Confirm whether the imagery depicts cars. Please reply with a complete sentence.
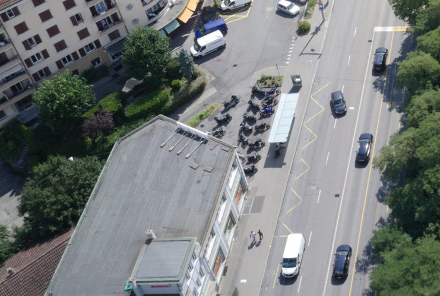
Yes, a car is visible in the scene.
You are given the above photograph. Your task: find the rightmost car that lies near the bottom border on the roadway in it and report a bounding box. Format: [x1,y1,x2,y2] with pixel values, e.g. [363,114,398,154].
[331,241,353,284]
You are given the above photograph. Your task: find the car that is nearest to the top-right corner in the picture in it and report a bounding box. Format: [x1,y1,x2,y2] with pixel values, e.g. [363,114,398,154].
[372,46,389,73]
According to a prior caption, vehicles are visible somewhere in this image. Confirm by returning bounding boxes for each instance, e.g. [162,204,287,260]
[251,81,264,93]
[190,11,232,38]
[239,119,254,131]
[247,97,262,110]
[247,138,266,147]
[246,162,262,174]
[219,0,252,11]
[261,97,278,105]
[355,132,375,166]
[212,126,226,134]
[258,105,276,115]
[243,108,257,121]
[276,227,305,279]
[273,0,303,17]
[254,122,273,131]
[223,96,239,108]
[372,46,389,73]
[244,150,264,161]
[214,111,233,122]
[186,26,229,55]
[331,241,353,284]
[238,130,252,142]
[330,86,348,118]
